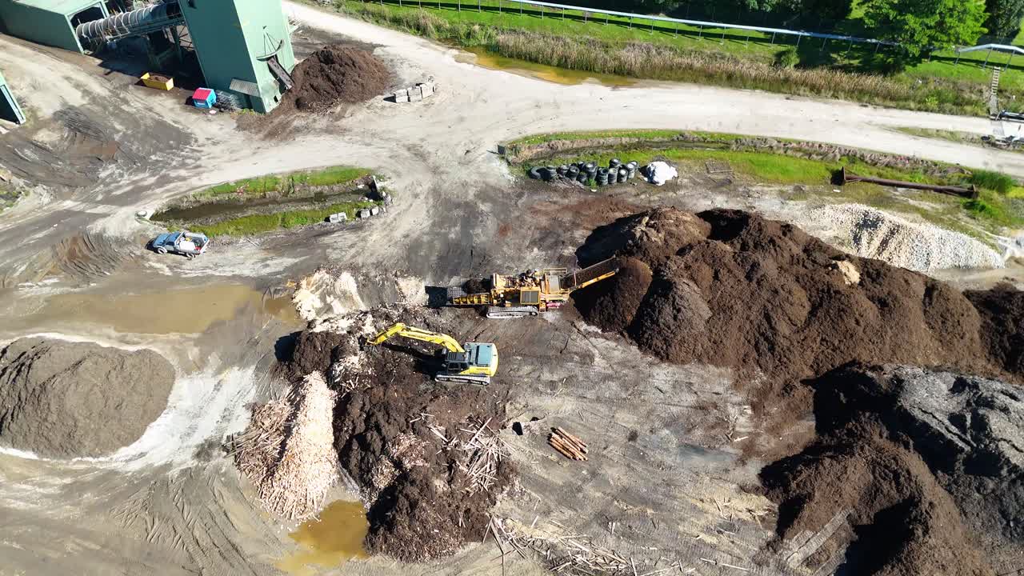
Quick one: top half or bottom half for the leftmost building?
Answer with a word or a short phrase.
top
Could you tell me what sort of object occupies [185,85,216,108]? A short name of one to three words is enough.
shed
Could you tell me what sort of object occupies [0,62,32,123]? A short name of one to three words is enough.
building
